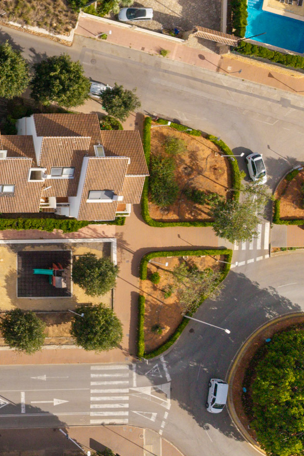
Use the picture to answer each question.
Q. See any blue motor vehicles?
No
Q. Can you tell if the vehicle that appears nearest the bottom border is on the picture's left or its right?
right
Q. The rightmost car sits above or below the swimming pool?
below it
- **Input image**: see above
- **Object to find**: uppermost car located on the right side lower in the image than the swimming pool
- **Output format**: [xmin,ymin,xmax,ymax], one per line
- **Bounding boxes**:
[243,152,267,185]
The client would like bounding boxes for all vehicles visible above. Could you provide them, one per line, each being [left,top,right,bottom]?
[205,378,229,414]
[243,152,267,185]
[116,5,155,23]
[84,79,115,98]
